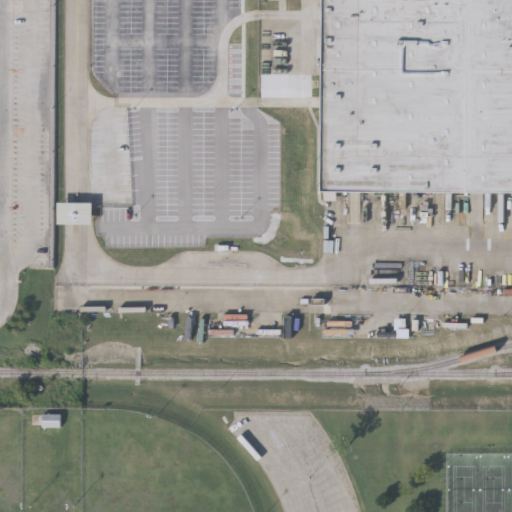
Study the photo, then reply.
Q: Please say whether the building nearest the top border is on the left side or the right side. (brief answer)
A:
right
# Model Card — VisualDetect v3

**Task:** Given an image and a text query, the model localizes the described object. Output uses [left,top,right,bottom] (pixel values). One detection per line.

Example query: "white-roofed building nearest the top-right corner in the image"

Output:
[321,0,512,192]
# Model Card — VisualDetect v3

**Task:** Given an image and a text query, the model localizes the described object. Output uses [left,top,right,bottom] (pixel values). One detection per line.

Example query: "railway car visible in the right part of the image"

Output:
[462,346,500,364]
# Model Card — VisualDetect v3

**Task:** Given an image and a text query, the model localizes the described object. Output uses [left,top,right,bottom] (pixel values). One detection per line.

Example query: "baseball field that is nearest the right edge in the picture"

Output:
[84,410,252,512]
